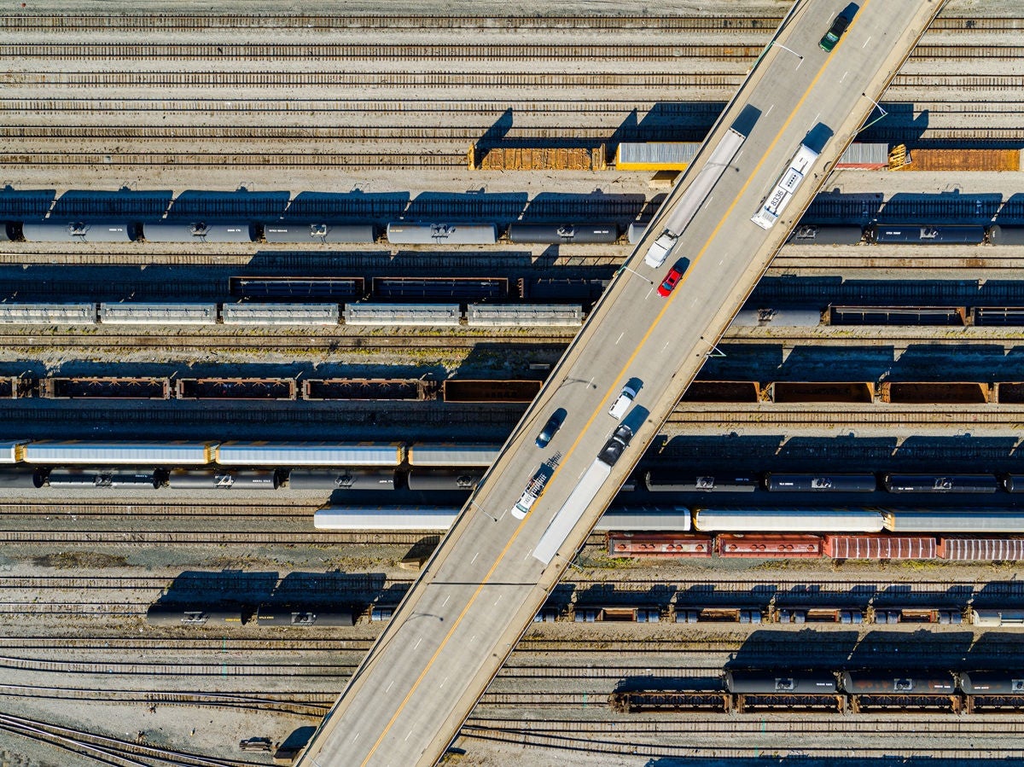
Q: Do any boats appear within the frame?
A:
Yes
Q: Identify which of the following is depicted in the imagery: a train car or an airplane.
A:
train car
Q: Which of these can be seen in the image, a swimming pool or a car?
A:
car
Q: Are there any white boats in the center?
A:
No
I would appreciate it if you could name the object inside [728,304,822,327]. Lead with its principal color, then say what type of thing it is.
gray rail car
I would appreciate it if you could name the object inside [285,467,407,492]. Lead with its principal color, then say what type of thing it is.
gray rail car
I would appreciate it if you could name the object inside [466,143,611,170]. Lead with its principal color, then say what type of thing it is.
orange rail car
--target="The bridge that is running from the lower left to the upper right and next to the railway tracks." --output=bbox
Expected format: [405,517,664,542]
[274,0,943,767]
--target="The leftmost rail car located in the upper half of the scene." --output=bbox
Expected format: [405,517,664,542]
[0,222,20,245]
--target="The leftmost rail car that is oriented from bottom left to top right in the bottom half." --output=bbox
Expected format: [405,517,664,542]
[620,469,641,491]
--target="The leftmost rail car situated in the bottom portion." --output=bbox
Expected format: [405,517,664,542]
[0,467,51,489]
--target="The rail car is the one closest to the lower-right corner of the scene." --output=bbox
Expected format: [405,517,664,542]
[954,667,1024,696]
